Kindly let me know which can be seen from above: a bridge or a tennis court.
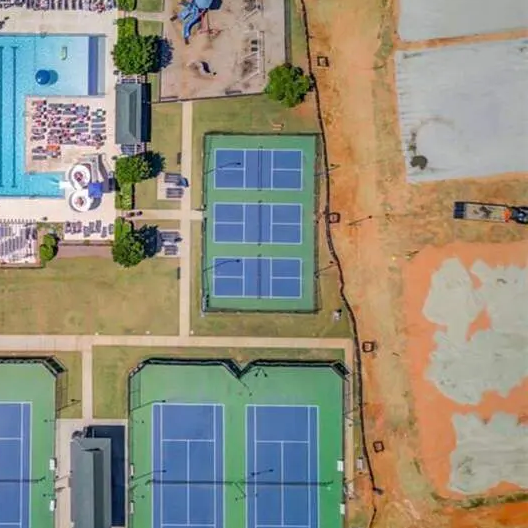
tennis court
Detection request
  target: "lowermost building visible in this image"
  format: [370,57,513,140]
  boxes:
[72,436,112,528]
